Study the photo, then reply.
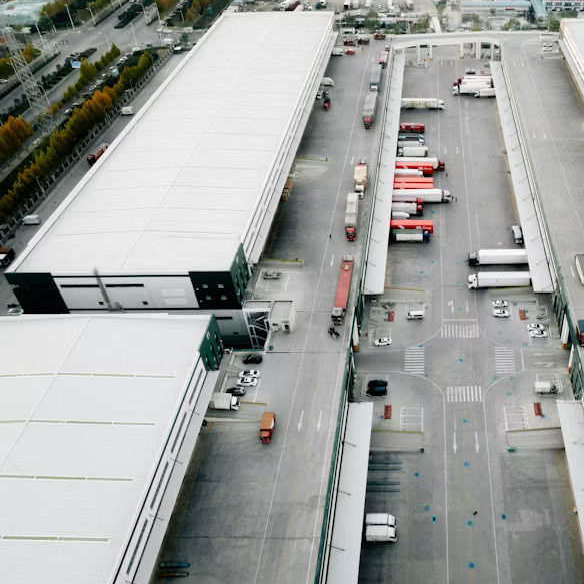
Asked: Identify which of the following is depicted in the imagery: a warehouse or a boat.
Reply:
warehouse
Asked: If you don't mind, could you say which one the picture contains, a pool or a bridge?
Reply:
bridge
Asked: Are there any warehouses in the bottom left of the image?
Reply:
Yes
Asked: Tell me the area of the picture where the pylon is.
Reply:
top left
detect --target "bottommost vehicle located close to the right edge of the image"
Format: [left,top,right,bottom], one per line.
[534,378,558,393]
